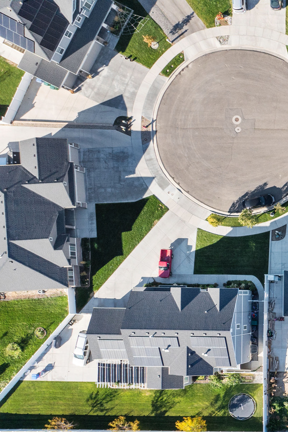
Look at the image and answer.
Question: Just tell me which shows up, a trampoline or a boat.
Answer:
trampoline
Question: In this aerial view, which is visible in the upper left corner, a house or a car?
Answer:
house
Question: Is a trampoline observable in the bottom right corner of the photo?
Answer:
Yes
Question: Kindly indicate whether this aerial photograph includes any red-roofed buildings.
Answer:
No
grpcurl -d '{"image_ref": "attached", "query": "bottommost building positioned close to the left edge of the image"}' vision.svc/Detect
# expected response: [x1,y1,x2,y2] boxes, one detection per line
[0,135,86,291]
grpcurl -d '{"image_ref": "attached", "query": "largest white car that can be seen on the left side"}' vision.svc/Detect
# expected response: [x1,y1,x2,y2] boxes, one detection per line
[72,331,90,365]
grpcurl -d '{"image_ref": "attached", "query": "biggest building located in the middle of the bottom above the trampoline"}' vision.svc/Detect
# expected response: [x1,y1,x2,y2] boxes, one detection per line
[82,286,253,391]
